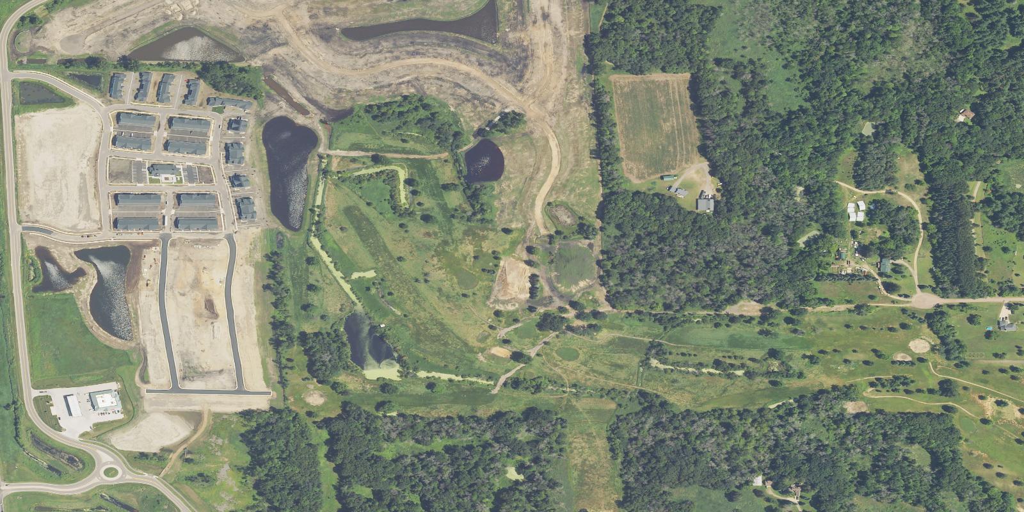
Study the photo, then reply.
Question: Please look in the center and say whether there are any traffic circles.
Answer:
No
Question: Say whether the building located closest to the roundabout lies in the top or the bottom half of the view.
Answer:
bottom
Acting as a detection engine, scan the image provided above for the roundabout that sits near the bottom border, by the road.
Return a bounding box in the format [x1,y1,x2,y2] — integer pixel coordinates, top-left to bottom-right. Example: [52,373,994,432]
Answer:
[81,446,135,489]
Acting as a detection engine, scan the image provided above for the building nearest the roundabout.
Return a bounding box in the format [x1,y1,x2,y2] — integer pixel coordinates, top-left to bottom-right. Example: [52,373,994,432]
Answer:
[91,389,121,411]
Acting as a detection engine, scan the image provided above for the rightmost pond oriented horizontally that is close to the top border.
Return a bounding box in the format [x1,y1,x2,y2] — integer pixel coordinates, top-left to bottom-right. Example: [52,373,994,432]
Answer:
[342,0,498,43]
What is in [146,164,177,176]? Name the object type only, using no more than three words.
building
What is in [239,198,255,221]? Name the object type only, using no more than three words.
house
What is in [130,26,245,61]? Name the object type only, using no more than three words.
pond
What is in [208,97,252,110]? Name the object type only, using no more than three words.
house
